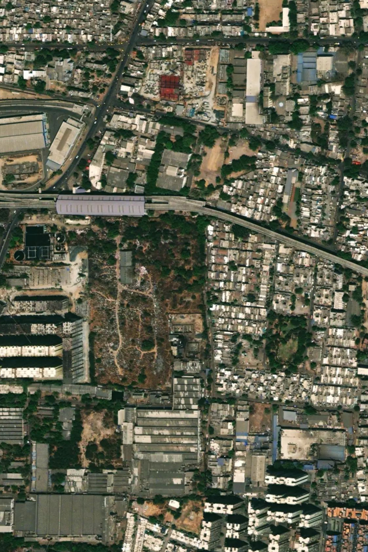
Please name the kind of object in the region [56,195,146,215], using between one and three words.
train station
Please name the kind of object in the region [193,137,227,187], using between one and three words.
sports field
